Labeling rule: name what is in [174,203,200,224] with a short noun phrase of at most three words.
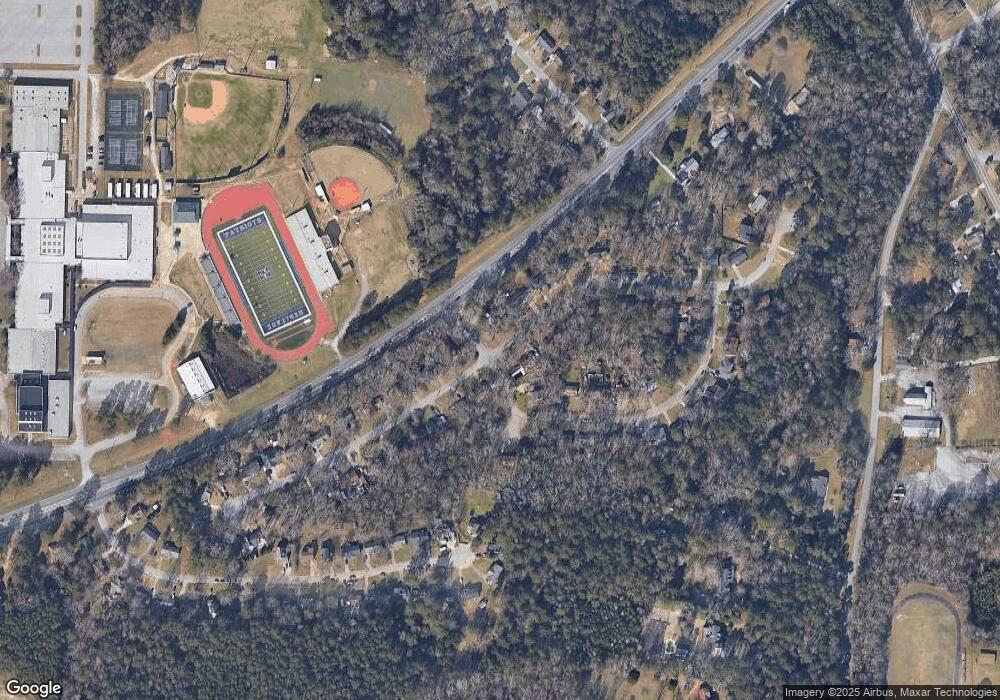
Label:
building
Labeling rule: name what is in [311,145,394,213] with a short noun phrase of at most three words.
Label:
baseball field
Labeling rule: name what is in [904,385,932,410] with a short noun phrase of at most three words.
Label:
building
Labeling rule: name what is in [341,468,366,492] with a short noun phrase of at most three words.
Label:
house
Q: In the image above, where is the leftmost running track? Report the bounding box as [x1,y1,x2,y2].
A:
[202,182,334,361]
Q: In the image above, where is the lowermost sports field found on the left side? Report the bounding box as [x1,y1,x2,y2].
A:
[209,204,317,346]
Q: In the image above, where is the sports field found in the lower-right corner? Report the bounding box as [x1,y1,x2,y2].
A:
[896,597,956,700]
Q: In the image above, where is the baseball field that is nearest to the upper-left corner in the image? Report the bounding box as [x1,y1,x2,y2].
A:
[176,72,287,179]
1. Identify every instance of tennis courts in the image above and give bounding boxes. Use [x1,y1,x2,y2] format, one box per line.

[125,139,138,164]
[109,139,120,164]
[110,100,121,125]
[126,100,137,125]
